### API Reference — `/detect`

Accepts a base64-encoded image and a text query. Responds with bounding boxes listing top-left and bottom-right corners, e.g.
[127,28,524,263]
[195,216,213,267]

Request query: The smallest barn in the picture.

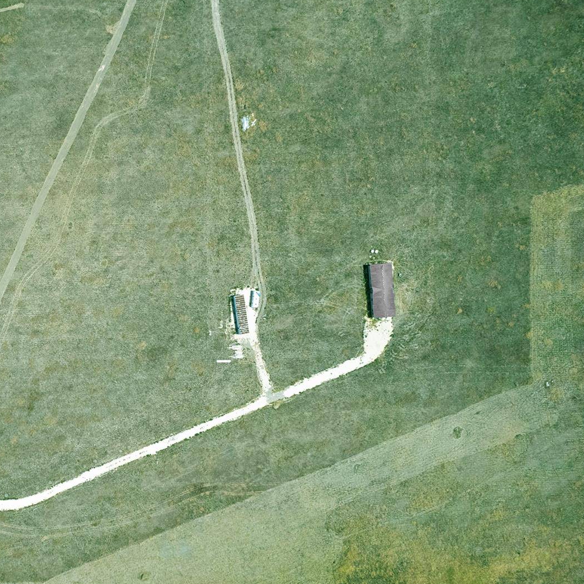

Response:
[231,294,249,334]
